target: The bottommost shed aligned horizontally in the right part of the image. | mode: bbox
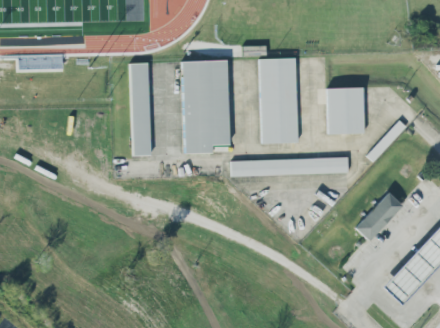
[229,156,349,176]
